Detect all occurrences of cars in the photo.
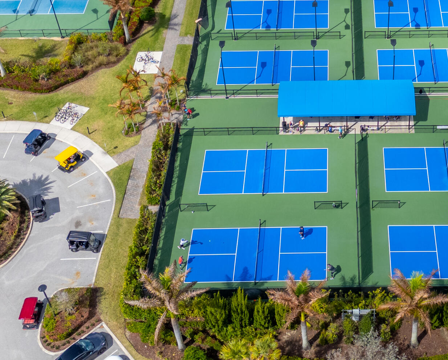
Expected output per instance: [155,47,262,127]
[53,331,110,360]
[97,353,123,360]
